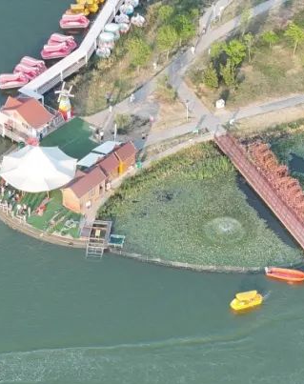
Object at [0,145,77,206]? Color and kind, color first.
white tent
